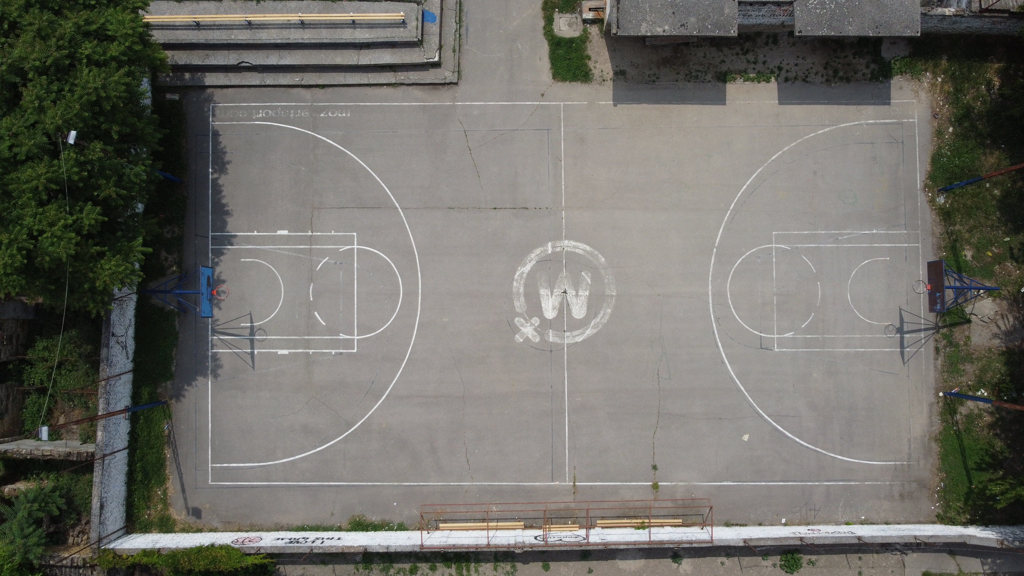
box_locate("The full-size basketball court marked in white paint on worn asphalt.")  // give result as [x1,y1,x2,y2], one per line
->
[195,21,924,488]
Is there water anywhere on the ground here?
No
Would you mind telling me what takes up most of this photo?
paved ground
